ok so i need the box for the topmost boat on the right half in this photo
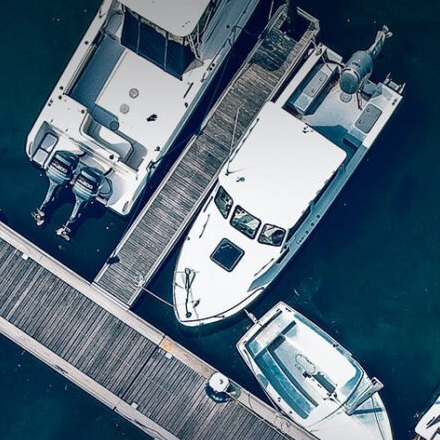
[172,21,404,327]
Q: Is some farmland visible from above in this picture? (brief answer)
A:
No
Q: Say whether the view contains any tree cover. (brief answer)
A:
No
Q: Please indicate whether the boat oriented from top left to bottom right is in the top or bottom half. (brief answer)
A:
bottom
